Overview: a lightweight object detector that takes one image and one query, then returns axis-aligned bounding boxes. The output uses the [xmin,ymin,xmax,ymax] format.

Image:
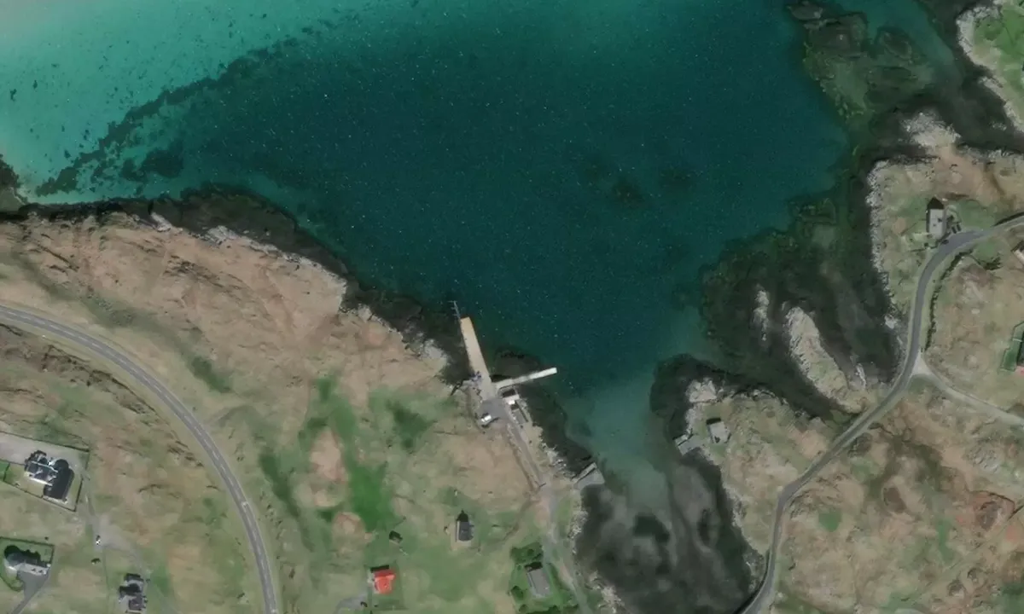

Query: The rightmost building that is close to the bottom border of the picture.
[526,569,550,598]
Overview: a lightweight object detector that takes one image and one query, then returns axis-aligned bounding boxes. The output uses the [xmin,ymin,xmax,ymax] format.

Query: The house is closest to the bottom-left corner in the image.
[2,551,48,576]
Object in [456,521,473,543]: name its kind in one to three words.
house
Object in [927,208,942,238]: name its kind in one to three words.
house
